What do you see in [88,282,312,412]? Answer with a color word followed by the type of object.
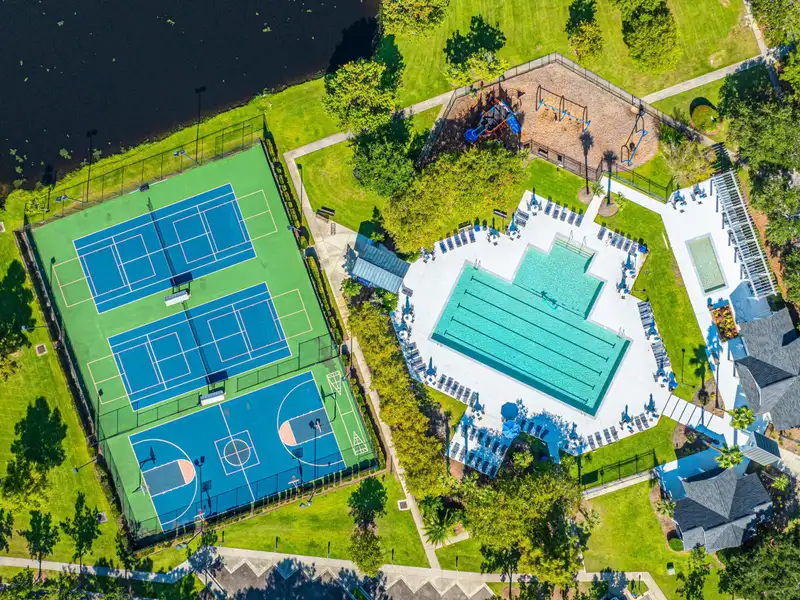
blue tennis court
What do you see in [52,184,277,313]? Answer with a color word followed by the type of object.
blue tennis court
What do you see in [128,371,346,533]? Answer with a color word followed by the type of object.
blue basketball court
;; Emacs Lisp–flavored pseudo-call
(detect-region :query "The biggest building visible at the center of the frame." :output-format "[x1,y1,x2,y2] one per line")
[352,244,410,295]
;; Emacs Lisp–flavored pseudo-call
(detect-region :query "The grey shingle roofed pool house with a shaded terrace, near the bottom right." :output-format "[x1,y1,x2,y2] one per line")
[673,468,776,555]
